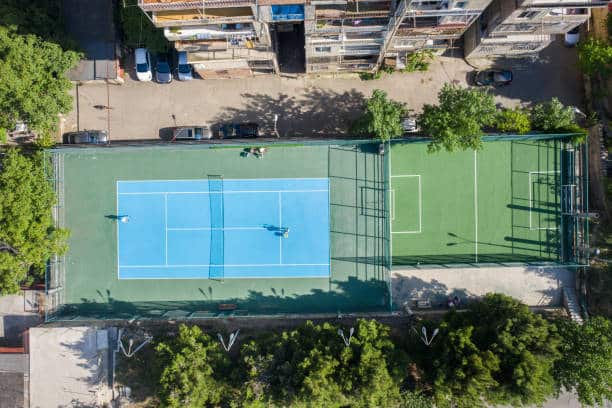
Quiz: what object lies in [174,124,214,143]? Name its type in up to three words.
car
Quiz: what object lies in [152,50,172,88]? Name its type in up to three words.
car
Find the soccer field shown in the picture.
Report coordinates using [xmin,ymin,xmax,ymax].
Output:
[388,140,563,263]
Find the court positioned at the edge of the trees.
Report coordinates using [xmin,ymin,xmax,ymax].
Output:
[65,145,385,315]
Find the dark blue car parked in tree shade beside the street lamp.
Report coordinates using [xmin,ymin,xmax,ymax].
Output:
[218,121,259,141]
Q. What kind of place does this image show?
sports ground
